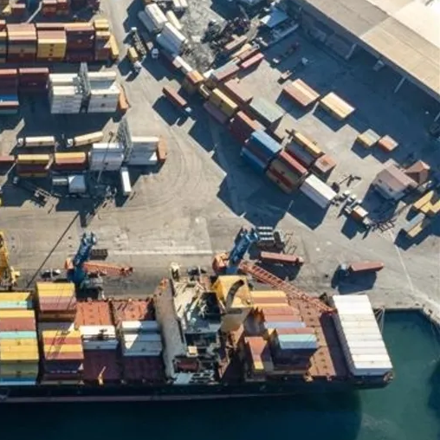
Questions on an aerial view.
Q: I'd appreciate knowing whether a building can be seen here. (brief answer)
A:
Yes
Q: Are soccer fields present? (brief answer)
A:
No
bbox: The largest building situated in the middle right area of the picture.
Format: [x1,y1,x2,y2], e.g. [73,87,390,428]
[375,161,422,198]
